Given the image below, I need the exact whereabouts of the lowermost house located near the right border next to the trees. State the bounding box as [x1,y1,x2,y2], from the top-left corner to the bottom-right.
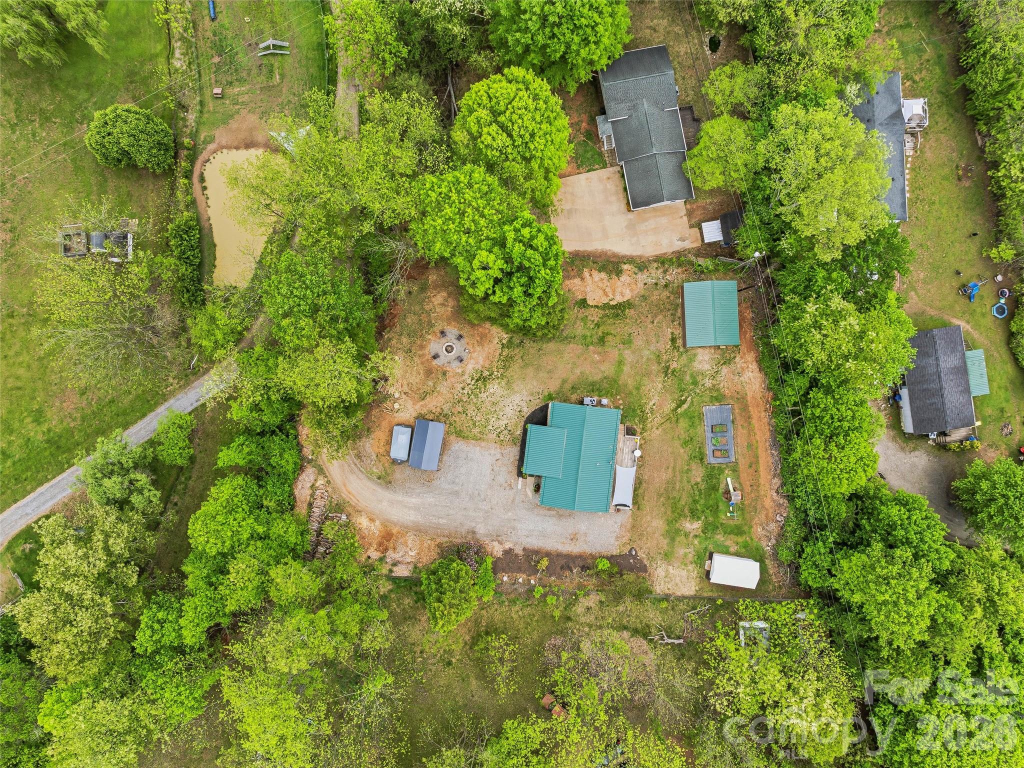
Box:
[891,325,989,435]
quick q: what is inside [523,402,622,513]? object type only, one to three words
house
